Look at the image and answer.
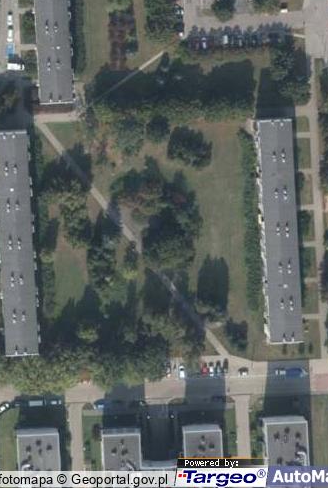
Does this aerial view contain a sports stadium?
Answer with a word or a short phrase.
No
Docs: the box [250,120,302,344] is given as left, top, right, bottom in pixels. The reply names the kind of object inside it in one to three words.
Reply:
building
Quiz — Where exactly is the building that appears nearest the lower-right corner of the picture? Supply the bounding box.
[257,417,307,488]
